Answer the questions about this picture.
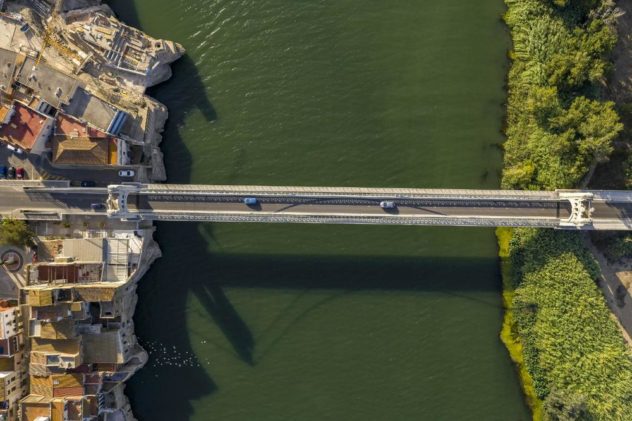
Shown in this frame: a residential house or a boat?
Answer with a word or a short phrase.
residential house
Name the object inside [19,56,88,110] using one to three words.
building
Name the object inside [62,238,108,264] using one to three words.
building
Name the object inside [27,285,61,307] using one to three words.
house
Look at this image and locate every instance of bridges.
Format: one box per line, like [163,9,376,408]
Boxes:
[28,182,632,231]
